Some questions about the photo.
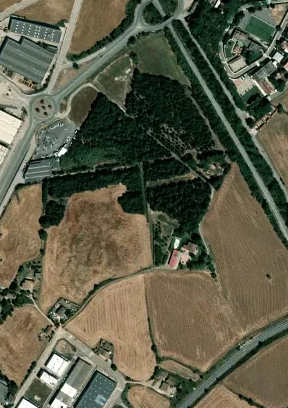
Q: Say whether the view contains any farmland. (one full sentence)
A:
Yes, farmland shows up in the scene.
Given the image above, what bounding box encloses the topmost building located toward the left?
[11,18,62,43]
